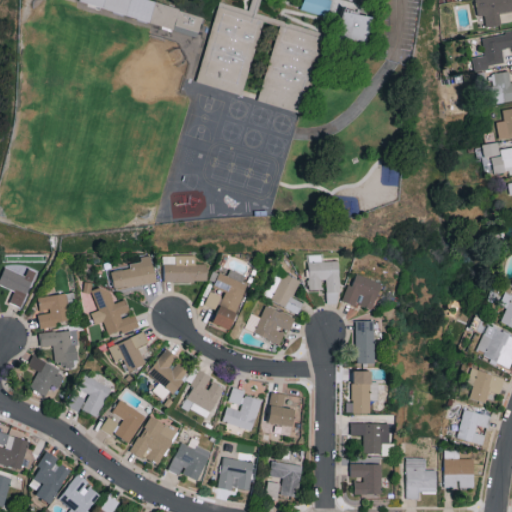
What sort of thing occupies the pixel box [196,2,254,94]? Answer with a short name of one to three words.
building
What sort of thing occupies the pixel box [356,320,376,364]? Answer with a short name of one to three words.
house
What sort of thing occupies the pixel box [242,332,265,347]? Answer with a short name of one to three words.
swimming pool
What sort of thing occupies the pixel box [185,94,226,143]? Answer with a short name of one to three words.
basketball court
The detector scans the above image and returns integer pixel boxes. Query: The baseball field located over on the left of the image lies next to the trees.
[0,0,190,234]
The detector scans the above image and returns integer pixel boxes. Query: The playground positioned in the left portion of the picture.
[170,190,206,219]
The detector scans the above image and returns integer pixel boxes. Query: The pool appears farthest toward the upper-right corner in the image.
[457,8,470,28]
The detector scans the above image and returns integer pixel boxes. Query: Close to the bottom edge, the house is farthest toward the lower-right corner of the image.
[444,451,476,489]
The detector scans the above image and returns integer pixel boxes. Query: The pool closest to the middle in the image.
[227,259,249,276]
